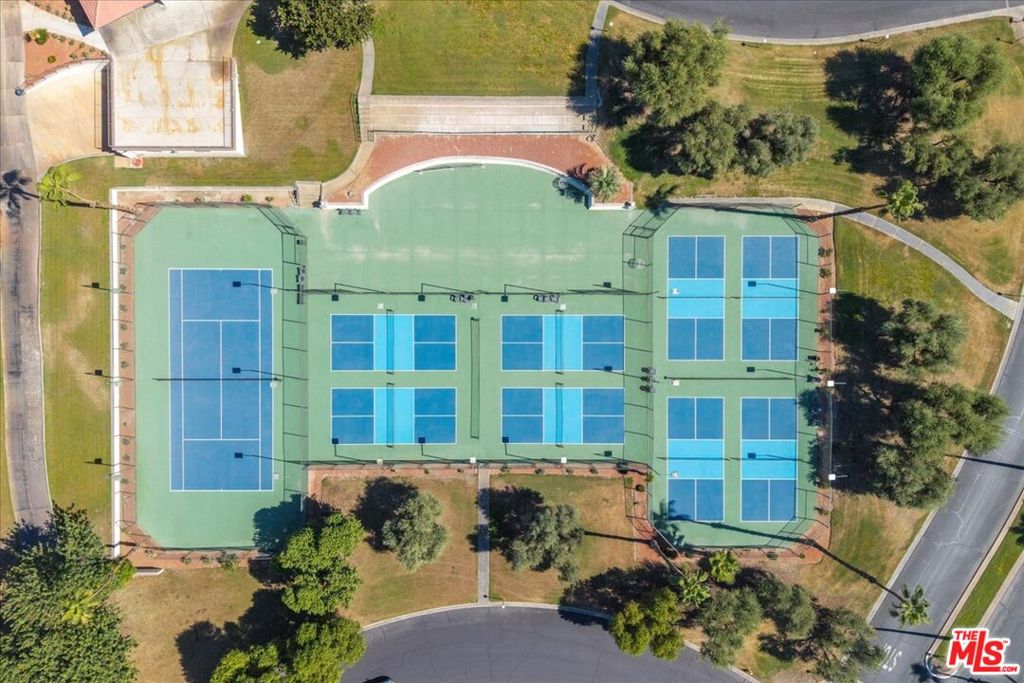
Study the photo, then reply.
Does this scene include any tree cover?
Yes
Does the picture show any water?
No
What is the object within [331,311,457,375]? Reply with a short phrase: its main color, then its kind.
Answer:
blue sports court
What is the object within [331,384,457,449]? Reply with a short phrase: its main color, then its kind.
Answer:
blue sports court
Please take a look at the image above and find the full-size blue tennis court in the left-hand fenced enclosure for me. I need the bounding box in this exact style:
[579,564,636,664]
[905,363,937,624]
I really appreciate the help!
[156,268,282,492]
